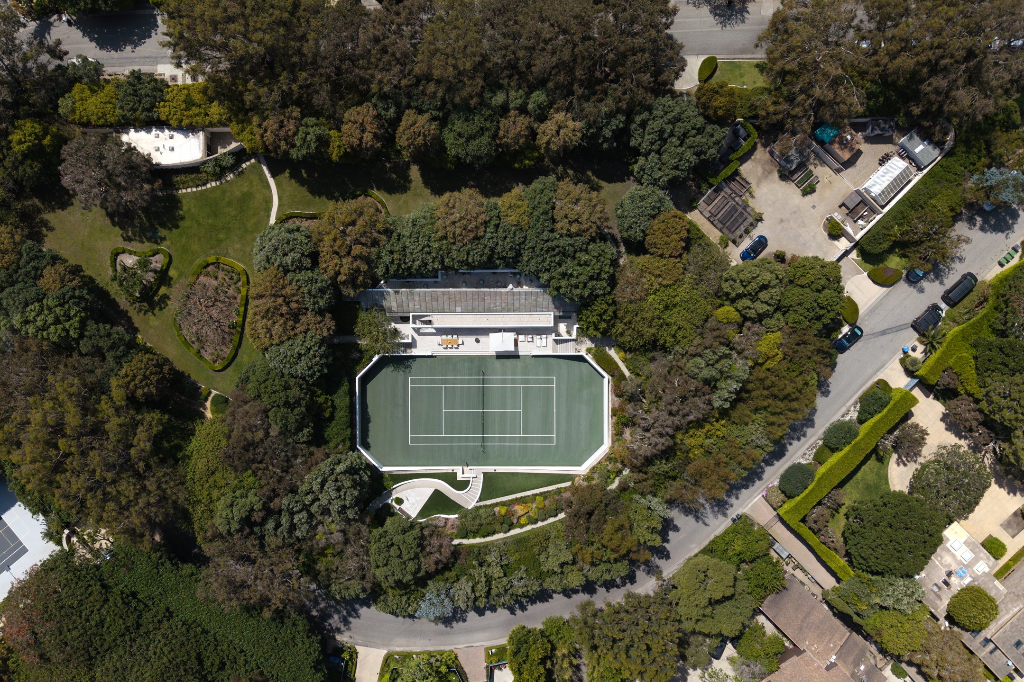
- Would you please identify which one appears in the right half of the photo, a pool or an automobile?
automobile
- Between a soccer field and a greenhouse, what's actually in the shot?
greenhouse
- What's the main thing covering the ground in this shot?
trees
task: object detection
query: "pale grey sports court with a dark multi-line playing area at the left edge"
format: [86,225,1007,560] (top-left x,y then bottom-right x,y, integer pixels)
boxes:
[0,478,64,603]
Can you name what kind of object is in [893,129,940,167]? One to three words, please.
shed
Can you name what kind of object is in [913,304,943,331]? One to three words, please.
car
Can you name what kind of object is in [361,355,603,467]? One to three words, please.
tennis court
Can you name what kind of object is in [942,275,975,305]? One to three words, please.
car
